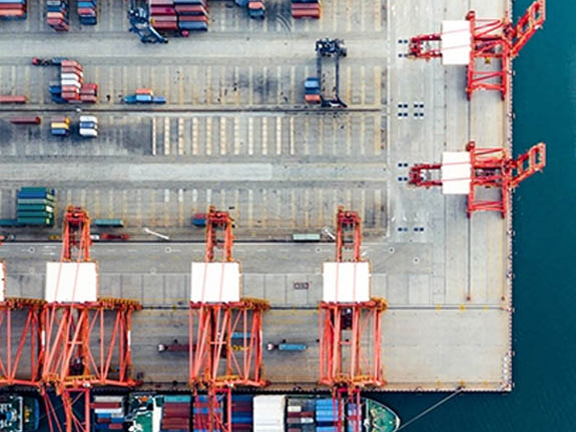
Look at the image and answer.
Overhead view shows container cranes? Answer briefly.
Yes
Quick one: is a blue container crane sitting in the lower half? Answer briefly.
No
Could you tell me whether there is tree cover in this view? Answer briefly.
No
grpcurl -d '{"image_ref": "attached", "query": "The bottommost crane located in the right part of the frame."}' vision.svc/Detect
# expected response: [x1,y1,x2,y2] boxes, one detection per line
[317,201,391,432]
